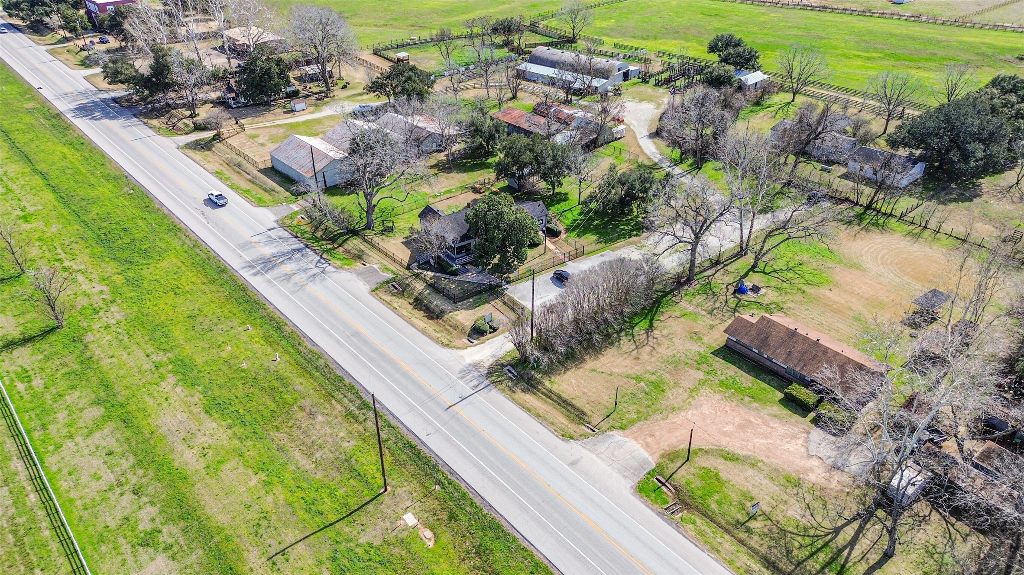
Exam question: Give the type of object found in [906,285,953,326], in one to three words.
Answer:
building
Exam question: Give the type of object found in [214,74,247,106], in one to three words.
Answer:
house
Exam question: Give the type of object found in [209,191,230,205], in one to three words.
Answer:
vehicle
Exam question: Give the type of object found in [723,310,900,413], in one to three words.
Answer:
house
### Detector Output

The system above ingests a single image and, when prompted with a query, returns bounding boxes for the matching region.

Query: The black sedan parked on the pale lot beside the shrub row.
[552,268,572,285]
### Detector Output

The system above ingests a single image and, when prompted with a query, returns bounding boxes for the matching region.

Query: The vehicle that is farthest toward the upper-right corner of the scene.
[808,189,826,204]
